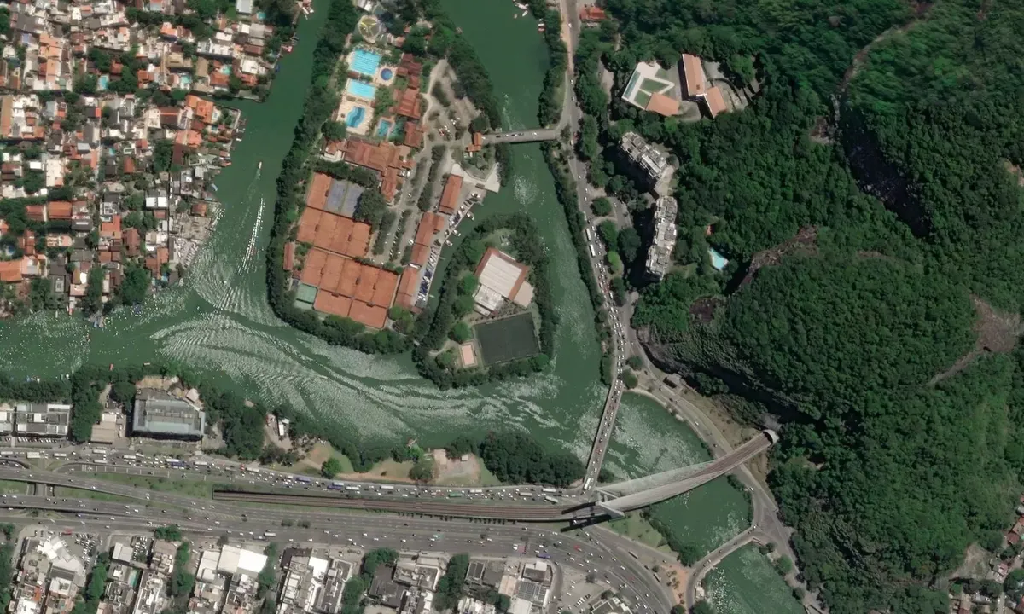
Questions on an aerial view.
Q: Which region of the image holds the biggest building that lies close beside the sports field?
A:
center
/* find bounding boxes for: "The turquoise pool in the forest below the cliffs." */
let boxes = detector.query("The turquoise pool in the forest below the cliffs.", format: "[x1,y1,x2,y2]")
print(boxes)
[710,249,726,269]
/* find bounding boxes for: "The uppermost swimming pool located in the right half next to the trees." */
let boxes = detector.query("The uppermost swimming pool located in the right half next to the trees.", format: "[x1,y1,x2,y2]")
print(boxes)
[623,70,641,99]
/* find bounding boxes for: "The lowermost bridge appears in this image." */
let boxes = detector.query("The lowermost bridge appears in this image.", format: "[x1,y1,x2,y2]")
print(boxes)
[683,524,763,614]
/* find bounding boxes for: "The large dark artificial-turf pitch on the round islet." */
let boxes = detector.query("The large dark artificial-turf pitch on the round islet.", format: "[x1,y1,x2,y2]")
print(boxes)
[476,313,540,365]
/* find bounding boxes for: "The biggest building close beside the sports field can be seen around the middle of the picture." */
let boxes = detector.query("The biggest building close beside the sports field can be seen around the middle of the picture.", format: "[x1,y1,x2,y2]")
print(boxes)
[475,247,530,303]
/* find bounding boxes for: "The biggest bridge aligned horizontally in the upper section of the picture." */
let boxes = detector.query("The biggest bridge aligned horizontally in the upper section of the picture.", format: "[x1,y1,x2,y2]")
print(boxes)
[481,129,562,144]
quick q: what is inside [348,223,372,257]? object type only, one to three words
tennis court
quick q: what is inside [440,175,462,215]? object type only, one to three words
building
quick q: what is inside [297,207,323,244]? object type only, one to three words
tennis court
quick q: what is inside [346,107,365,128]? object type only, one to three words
swimming pool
